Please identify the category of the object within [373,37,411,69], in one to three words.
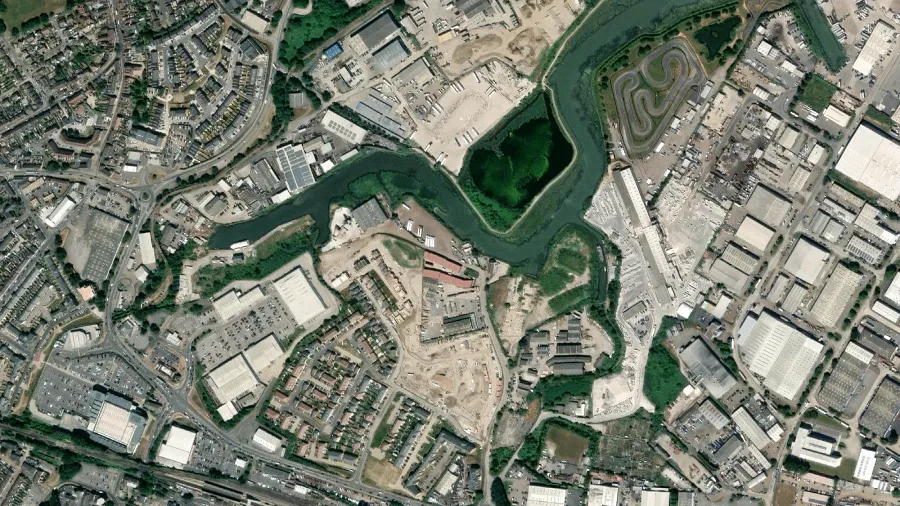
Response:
building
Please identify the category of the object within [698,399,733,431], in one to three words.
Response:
building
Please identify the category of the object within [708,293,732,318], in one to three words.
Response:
shed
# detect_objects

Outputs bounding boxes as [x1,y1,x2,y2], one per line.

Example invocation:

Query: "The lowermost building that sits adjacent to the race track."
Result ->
[613,168,676,307]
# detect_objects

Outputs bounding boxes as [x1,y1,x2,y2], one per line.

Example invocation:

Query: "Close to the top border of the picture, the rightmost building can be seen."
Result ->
[853,20,896,76]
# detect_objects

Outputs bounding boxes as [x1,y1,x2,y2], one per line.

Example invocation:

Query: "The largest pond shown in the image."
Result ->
[468,100,572,207]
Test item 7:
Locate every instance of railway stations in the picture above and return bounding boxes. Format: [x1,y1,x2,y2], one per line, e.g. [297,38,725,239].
[163,472,261,506]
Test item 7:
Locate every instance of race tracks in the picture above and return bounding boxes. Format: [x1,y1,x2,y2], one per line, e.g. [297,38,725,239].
[612,38,705,153]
